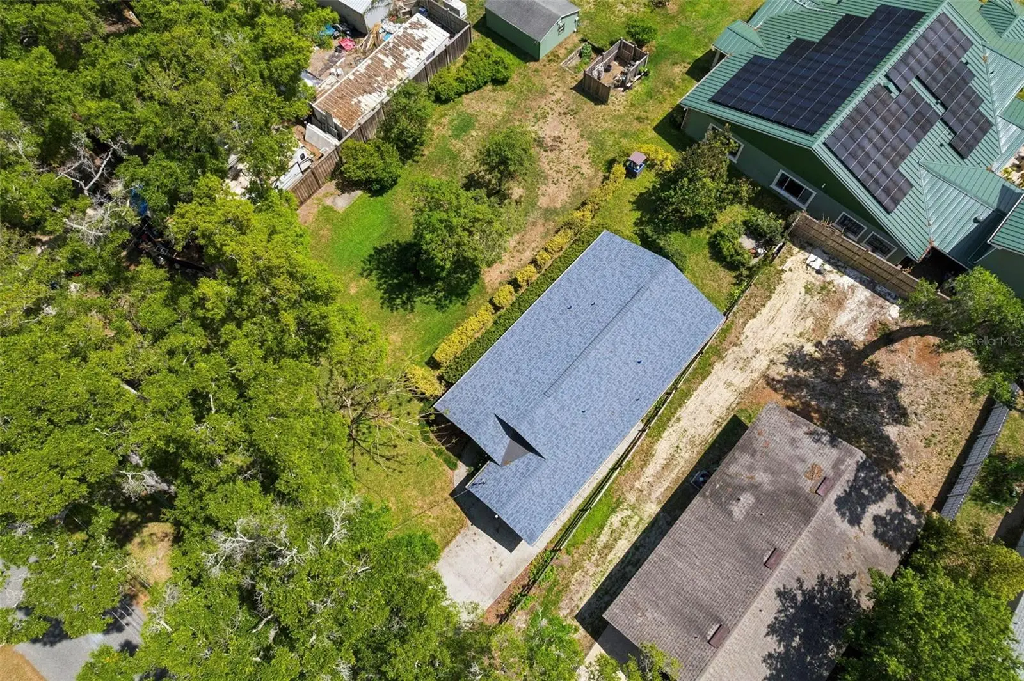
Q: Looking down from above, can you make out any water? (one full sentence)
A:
No, no water is visible.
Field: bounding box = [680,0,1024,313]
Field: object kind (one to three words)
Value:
building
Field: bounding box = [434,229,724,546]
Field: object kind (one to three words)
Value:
house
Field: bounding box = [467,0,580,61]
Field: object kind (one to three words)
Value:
shed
